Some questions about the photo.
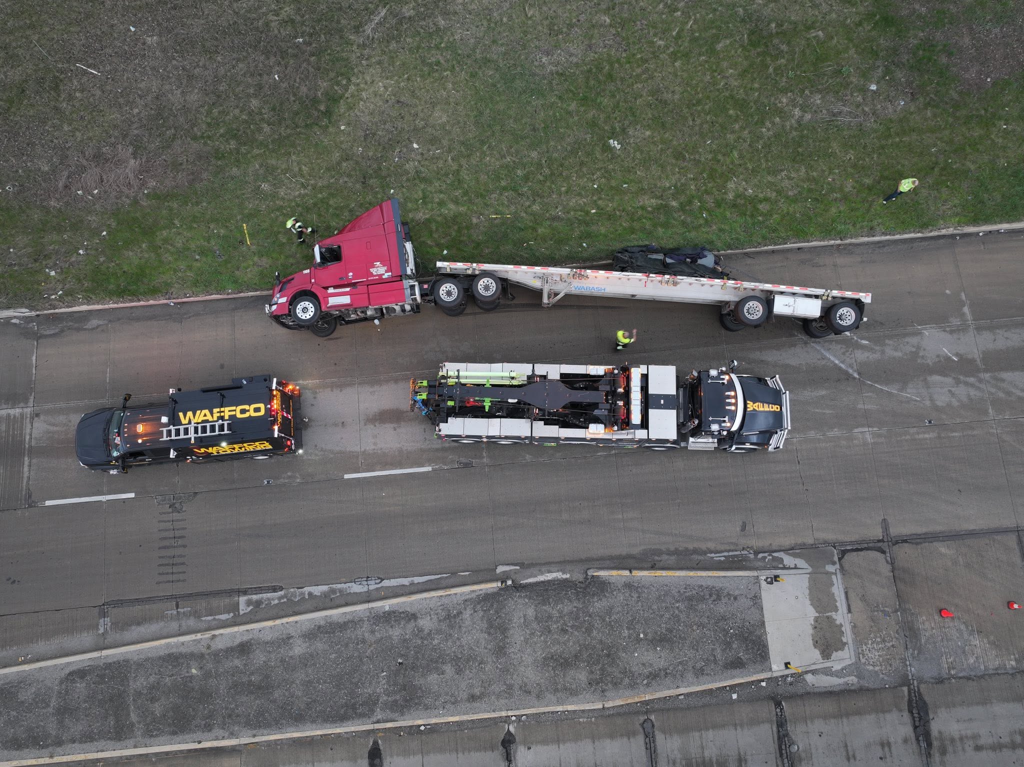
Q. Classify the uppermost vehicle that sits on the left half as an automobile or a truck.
truck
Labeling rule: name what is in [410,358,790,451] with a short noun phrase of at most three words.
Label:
truck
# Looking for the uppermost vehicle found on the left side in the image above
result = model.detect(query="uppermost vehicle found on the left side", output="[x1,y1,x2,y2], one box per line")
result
[263,198,509,337]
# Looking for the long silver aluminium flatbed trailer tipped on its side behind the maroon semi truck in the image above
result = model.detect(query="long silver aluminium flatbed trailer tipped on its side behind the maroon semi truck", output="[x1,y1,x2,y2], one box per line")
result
[434,261,874,343]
